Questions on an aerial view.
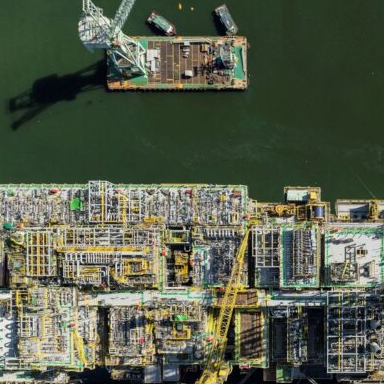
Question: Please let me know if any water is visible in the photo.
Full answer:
Yes, some water is visible.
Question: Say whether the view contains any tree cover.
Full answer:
No, no tree cover is visible.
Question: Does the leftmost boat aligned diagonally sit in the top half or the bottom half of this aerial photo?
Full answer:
The top half of the photo is where the leftmost boat aligned diagonally is.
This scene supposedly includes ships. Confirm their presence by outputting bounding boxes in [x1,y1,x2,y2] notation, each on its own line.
[0,181,384,384]
[106,37,247,93]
